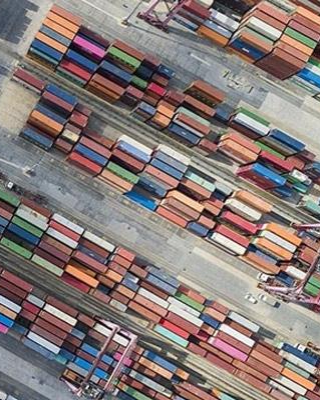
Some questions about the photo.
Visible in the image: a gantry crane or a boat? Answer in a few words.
gantry crane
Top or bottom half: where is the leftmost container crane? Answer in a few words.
bottom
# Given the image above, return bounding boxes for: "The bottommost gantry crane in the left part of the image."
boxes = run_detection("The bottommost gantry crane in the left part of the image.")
[55,309,144,400]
